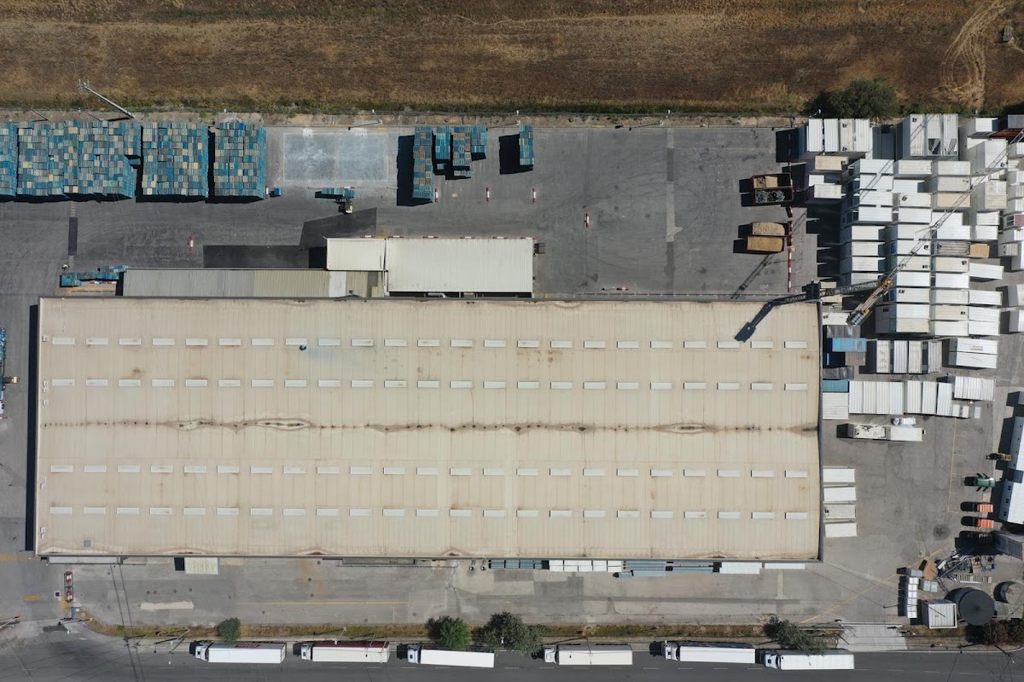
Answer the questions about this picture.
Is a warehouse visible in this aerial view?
Yes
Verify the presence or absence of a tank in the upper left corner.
No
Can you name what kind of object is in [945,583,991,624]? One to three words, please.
storage tank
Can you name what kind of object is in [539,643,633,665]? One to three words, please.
truck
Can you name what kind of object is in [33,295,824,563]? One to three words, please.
warehouse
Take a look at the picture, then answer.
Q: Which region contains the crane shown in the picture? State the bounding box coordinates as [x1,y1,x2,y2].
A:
[809,126,1024,338]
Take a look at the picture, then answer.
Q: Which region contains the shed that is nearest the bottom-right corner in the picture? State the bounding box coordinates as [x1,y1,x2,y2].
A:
[994,532,1024,563]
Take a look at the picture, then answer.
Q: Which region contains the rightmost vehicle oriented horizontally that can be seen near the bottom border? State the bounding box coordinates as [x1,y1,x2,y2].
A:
[756,648,854,670]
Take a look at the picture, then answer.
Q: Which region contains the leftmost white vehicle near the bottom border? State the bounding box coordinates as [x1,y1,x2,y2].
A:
[196,642,286,664]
